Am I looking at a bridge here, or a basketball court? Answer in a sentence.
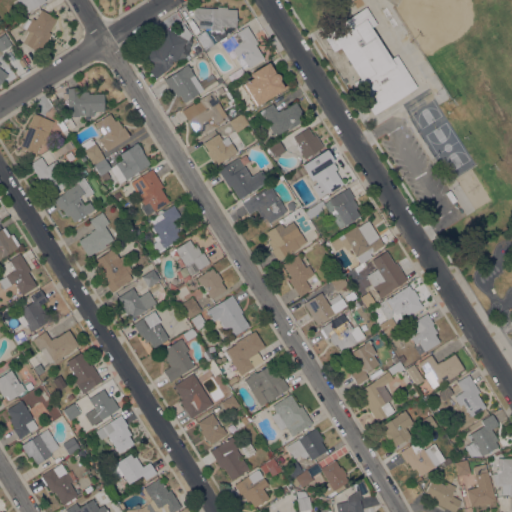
It is a basketball court that can be seen here.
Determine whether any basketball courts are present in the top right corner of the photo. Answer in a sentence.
Yes, there is a basketball court in the top right corner of the photo.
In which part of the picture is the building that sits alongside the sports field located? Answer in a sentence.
The building that sits alongside the sports field appears toward the top right of the photo.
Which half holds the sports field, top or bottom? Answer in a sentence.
The sports field is in the top half of the image.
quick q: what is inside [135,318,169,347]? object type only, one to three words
house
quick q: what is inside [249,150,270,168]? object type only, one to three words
swimming pool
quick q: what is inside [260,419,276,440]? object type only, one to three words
swimming pool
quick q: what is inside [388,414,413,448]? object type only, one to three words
house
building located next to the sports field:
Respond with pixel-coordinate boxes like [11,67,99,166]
[328,6,418,113]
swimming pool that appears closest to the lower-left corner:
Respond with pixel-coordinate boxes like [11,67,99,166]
[54,420,66,444]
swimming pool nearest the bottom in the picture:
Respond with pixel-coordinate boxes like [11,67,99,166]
[122,494,146,510]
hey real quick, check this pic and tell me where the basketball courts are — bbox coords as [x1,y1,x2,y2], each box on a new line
[404,89,476,176]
